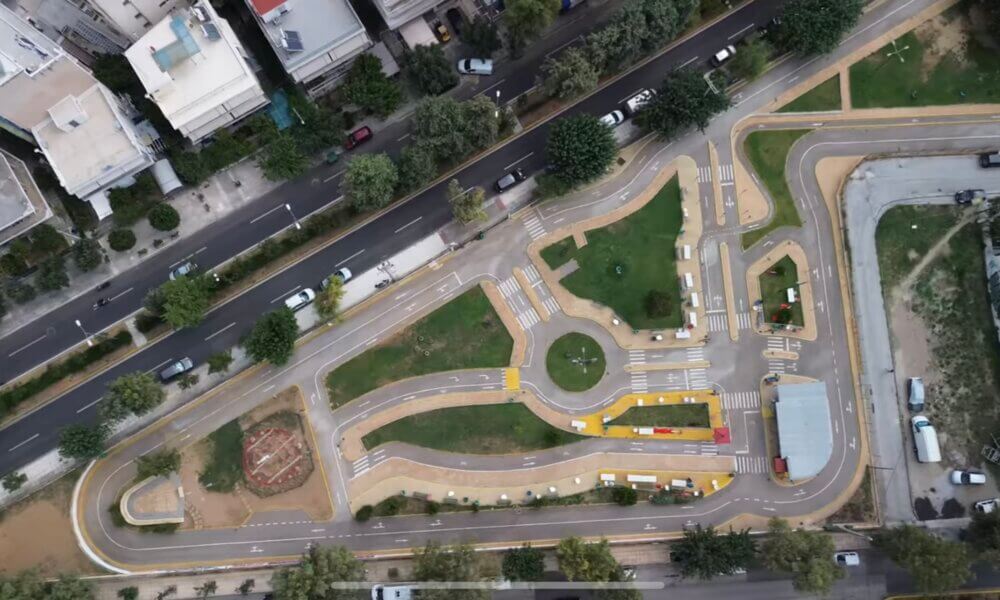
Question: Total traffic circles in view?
1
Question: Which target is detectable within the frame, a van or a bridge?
van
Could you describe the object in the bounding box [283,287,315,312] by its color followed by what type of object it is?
white car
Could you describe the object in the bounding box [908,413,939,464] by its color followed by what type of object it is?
white van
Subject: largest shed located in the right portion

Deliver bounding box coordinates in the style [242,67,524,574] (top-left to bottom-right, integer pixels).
[770,381,832,480]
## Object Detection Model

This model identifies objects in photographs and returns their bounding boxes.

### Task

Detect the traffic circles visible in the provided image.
[539,324,613,398]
